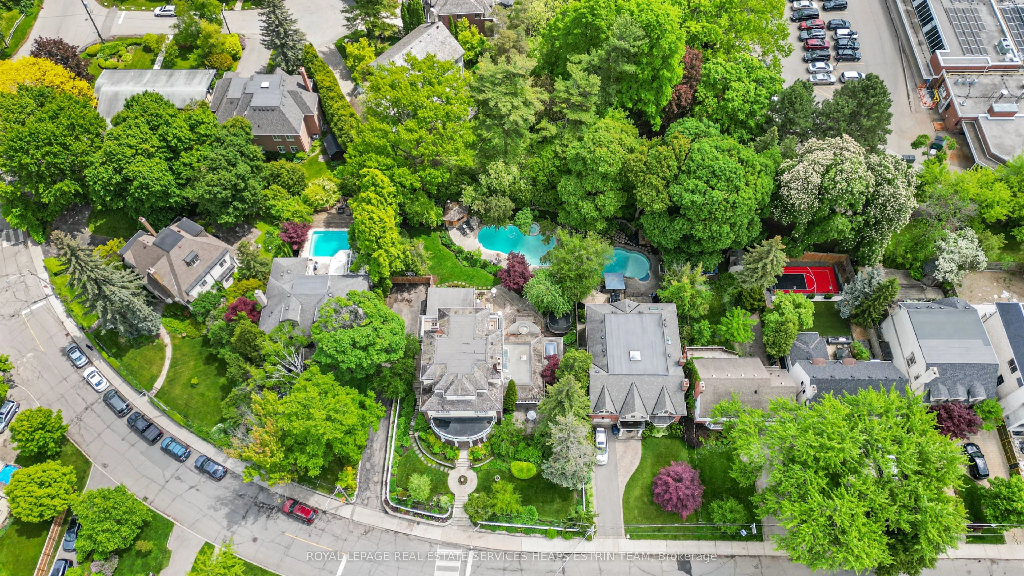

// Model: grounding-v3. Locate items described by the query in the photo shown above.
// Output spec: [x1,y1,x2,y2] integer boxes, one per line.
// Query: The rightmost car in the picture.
[961,441,992,481]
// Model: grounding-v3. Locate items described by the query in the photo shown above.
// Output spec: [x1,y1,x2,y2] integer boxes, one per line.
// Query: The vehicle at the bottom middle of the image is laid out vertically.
[592,426,612,468]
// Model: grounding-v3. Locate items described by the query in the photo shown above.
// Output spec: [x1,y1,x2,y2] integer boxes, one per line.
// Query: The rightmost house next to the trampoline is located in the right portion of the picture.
[585,299,692,439]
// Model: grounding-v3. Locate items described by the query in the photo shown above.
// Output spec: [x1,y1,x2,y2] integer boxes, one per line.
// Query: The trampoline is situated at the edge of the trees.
[548,303,574,332]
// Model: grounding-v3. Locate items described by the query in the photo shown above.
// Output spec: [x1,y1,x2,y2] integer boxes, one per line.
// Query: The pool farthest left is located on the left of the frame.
[306,227,365,260]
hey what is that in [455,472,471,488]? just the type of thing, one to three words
fountain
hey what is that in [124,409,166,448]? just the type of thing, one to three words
truck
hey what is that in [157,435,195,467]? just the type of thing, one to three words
car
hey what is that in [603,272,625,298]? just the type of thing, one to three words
gazebo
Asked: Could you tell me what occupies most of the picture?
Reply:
trees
